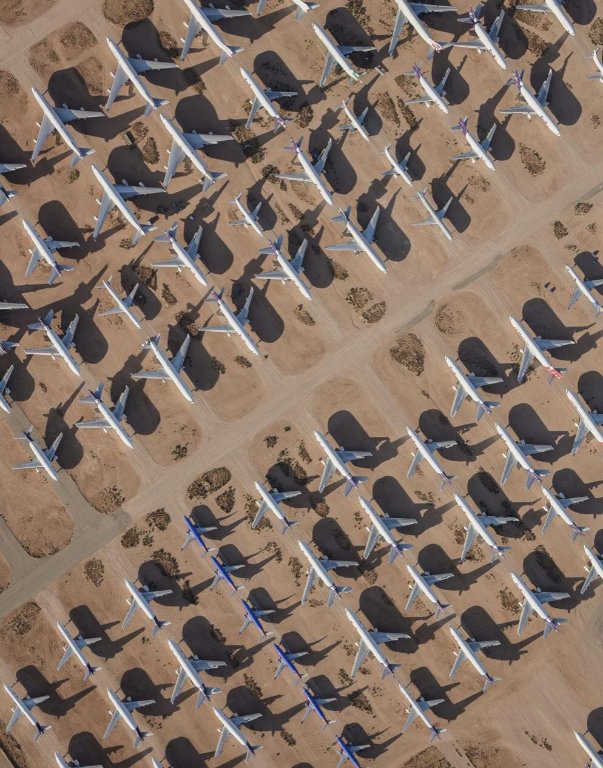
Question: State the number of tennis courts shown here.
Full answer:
There are no tennis courts in the image.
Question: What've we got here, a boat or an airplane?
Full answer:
It is an airplane that can be seen here.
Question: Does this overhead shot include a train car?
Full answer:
No, the photo shows no train car.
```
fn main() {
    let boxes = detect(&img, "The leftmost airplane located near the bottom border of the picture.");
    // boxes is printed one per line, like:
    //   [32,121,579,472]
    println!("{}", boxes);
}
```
[4,684,51,740]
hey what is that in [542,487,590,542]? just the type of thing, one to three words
airplane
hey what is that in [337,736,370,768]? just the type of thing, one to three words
airplane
